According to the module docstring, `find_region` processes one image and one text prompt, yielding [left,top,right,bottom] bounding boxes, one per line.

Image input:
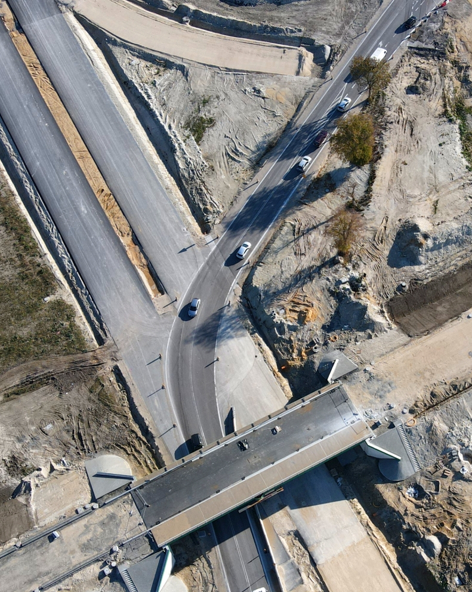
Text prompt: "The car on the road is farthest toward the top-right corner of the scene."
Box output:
[405,15,418,28]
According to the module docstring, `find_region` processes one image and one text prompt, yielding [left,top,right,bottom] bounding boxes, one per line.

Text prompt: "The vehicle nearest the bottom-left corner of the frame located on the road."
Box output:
[189,431,204,451]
